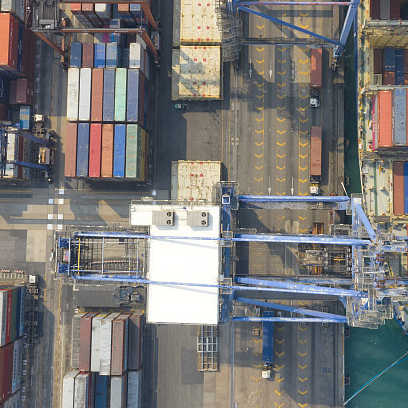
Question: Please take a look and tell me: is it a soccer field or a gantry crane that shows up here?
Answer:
gantry crane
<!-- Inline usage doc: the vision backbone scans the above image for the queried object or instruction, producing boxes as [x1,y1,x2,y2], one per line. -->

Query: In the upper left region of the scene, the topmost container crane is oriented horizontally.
[28,0,164,66]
